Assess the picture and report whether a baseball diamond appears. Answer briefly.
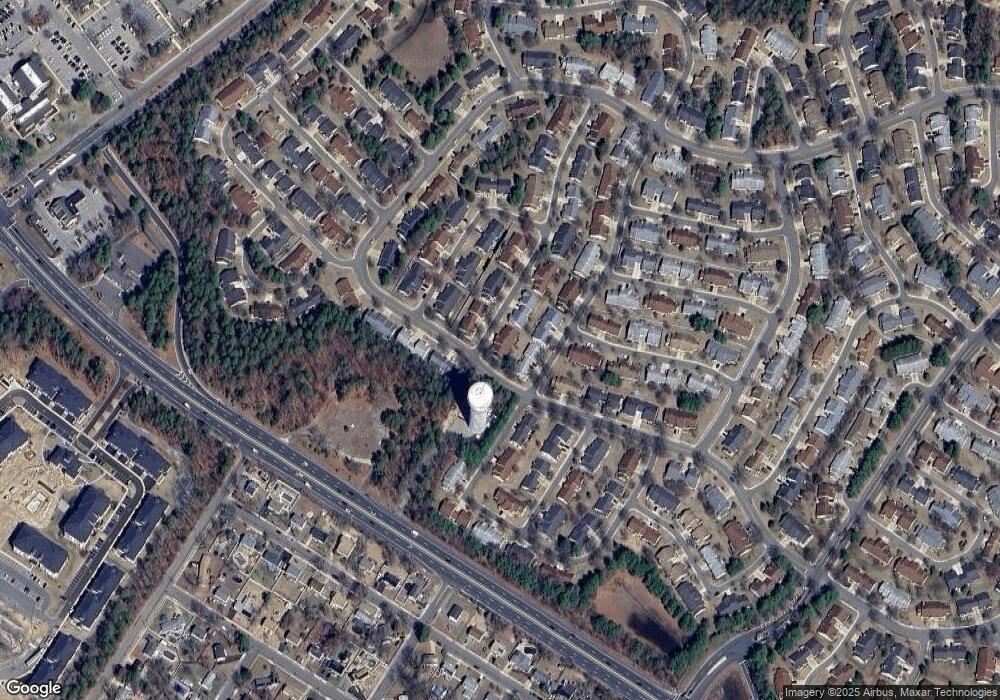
No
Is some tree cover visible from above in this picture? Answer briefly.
Yes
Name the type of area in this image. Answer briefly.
residential area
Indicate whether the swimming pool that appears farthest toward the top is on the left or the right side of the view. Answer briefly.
left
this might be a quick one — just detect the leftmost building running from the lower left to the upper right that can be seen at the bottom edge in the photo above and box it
[24,635,77,696]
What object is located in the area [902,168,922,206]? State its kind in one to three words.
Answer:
house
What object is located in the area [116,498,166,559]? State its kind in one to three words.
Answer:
building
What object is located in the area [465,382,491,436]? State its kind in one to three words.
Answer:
water tower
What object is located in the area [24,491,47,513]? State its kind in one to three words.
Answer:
swimming pool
